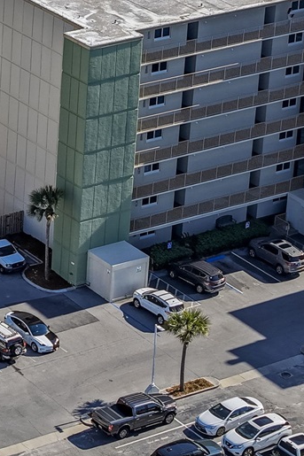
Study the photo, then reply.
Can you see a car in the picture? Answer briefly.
Yes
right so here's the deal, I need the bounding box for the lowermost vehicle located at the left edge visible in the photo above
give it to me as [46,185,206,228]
[2,307,56,349]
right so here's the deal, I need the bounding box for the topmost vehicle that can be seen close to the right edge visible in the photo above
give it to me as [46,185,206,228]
[239,235,304,274]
